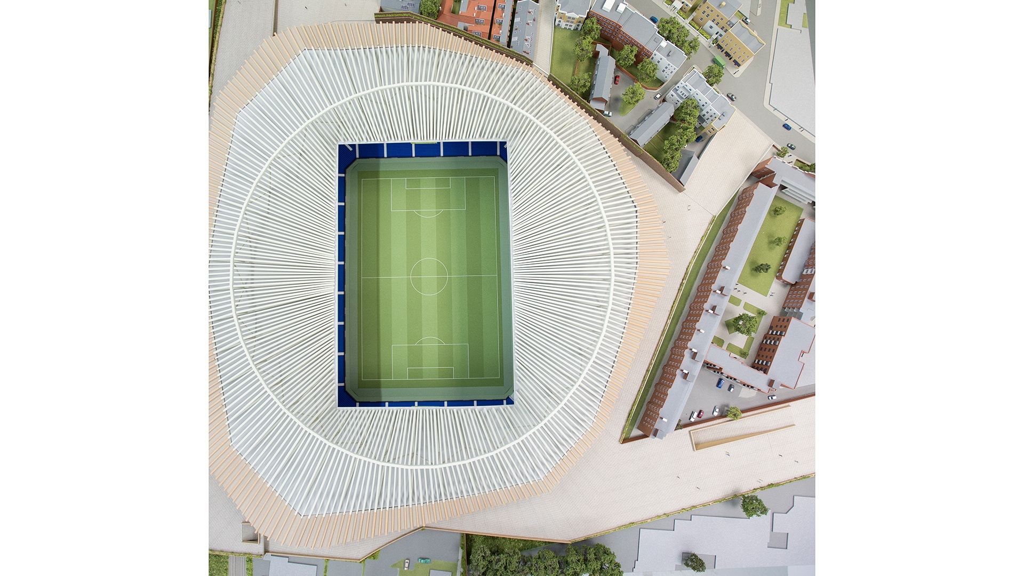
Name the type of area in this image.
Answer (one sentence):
The picture captures a sports ground.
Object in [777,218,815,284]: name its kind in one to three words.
building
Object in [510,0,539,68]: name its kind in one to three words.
house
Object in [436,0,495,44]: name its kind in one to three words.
house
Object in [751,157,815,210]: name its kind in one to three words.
building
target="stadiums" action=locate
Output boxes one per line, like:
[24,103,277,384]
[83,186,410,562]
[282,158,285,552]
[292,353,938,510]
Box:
[208,22,670,549]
